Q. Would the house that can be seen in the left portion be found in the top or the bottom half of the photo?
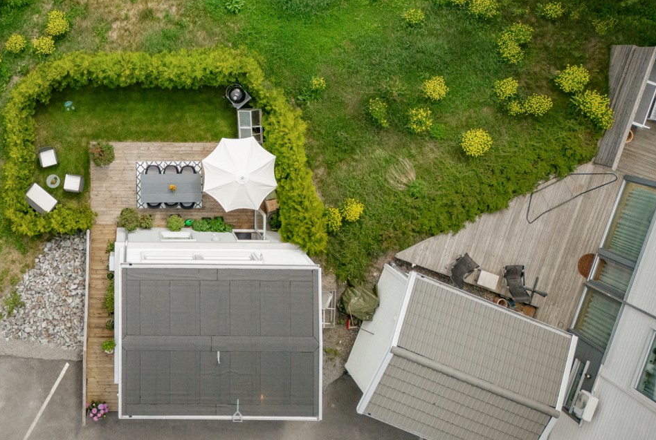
bottom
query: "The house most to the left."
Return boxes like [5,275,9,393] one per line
[114,208,325,425]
